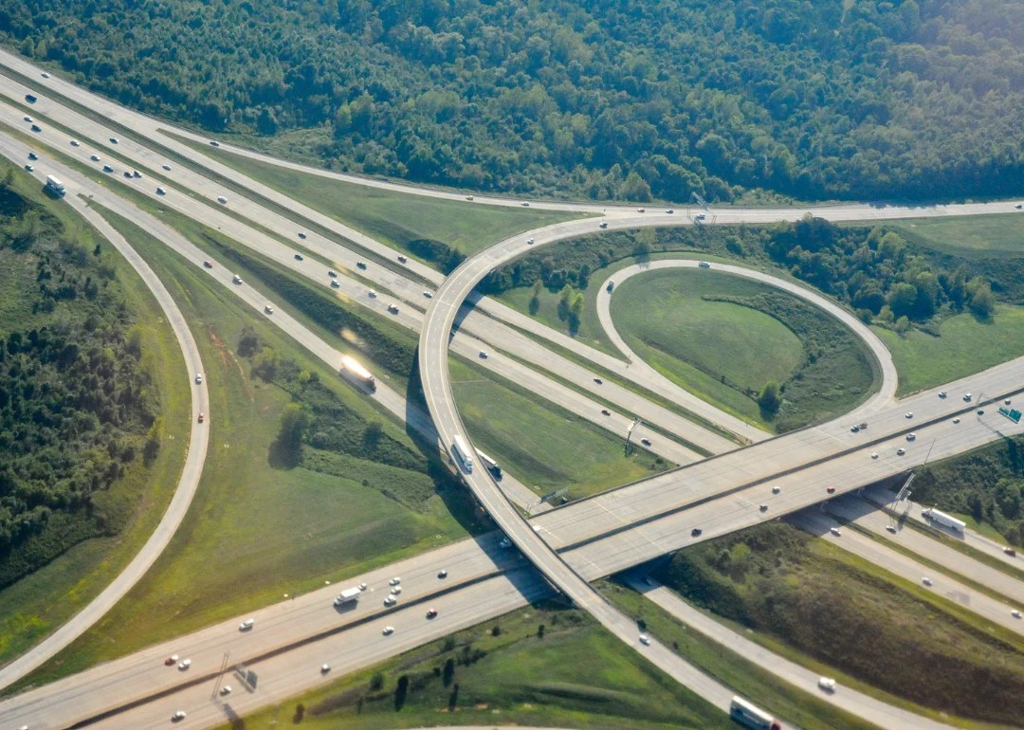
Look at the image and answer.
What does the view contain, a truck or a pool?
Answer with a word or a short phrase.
truck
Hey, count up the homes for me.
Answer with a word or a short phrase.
none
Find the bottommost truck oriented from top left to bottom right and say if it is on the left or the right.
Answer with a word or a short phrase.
right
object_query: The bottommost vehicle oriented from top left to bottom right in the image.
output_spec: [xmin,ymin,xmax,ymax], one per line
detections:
[727,694,780,730]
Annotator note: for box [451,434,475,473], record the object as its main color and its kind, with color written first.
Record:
white truck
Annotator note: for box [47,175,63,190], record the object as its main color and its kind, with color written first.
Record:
white vehicle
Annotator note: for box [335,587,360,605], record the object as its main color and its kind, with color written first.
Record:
white vehicle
